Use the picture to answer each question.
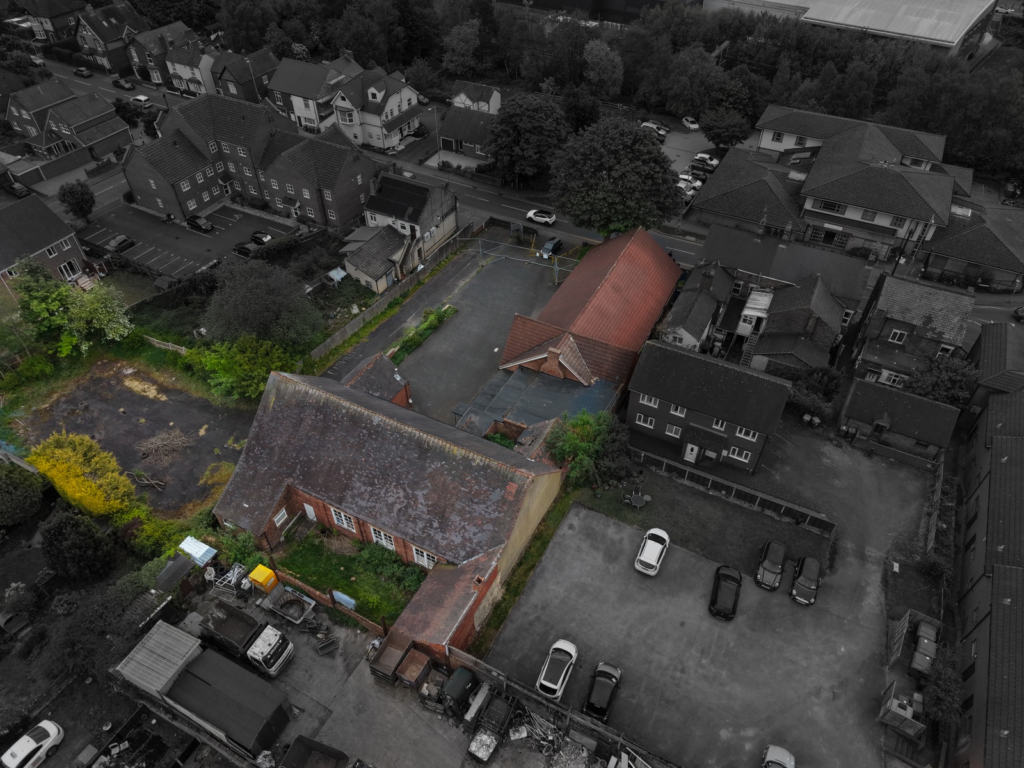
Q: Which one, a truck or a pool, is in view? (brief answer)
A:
truck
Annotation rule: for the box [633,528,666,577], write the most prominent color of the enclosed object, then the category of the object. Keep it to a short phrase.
white car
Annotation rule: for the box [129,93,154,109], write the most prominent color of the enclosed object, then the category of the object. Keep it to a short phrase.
gray car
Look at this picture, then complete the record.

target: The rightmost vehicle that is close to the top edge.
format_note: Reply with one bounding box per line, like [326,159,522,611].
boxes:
[991,2,1016,17]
